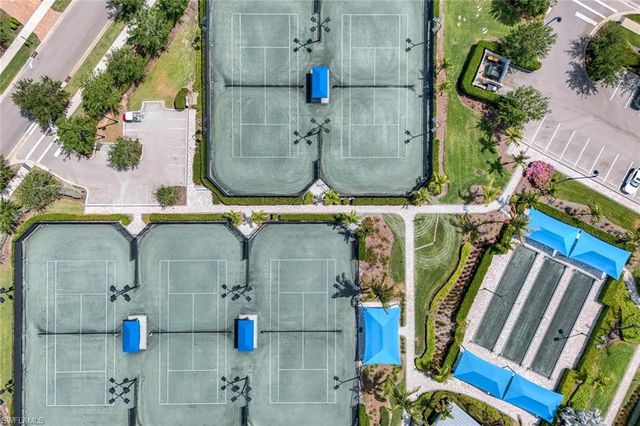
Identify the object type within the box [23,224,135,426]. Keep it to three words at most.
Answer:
tennis court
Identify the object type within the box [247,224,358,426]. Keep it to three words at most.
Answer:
tennis court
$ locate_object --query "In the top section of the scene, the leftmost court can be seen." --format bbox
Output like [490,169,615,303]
[210,0,319,194]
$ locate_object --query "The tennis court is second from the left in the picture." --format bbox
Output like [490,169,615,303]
[135,224,247,426]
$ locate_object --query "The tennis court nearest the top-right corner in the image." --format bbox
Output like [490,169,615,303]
[319,0,429,195]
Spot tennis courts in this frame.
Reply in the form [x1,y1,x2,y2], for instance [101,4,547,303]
[210,0,319,194]
[319,0,429,195]
[247,224,358,426]
[23,224,135,426]
[135,224,247,426]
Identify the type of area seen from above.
sports ground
